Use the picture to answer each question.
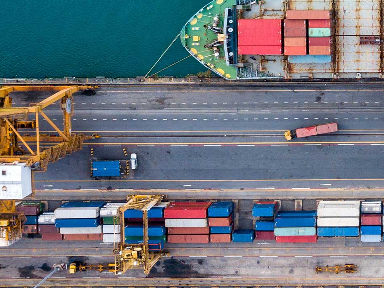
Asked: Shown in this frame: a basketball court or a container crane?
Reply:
container crane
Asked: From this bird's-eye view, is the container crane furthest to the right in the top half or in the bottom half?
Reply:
bottom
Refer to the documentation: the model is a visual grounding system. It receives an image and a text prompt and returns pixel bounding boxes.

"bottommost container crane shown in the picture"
[111,192,171,279]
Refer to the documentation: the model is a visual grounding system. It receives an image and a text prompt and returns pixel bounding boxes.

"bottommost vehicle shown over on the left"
[66,264,120,277]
